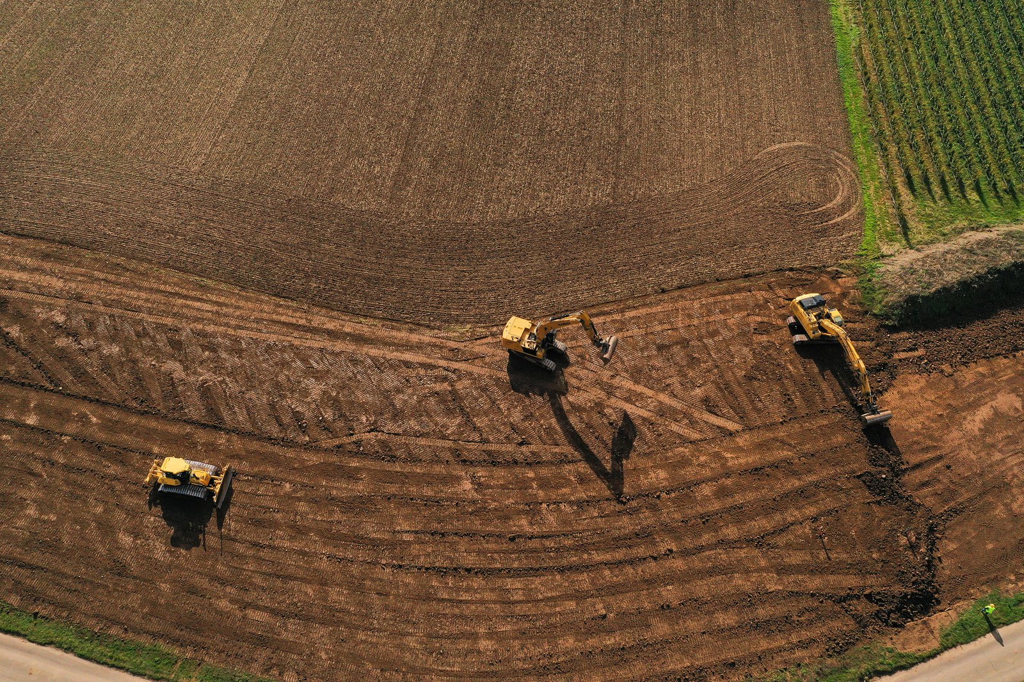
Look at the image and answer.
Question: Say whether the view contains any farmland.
Yes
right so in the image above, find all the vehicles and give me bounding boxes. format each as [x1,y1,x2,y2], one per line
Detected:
[789,296,898,423]
[145,455,235,511]
[506,309,619,371]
